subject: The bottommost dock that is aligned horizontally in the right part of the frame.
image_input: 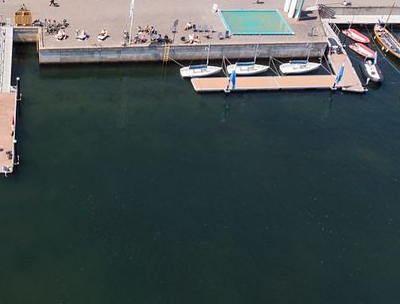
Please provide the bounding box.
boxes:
[192,77,332,94]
